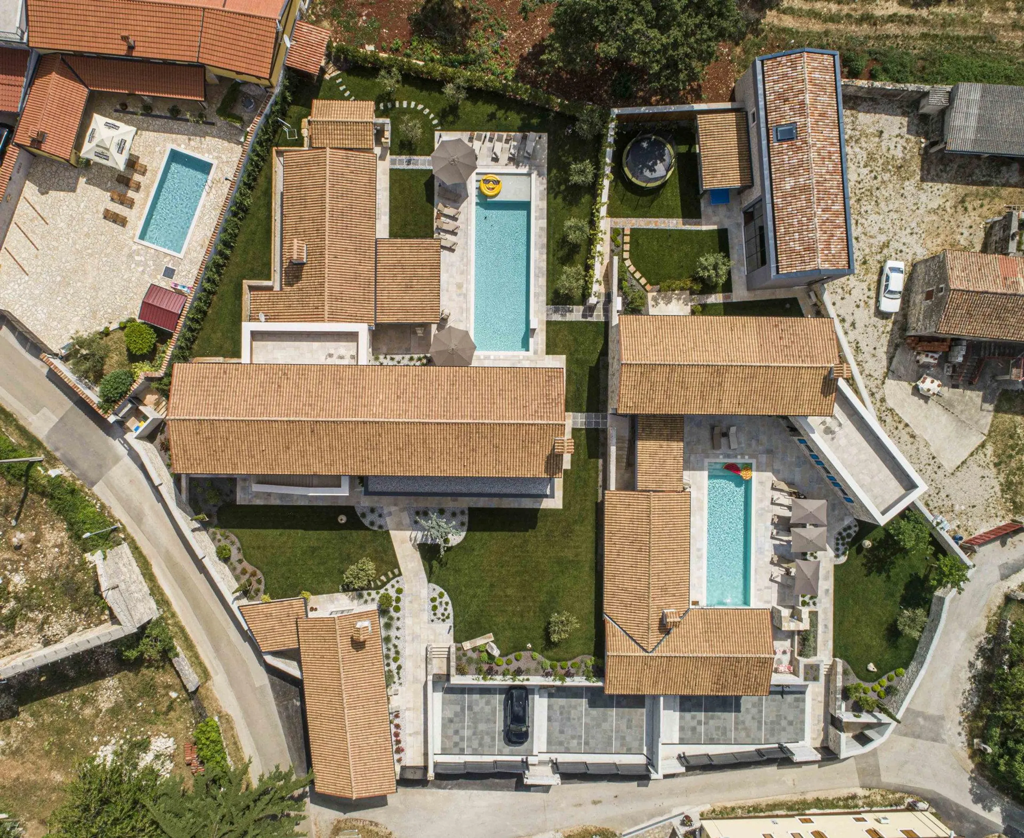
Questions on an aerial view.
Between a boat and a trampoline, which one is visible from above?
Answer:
trampoline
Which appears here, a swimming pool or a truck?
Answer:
swimming pool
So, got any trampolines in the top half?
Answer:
Yes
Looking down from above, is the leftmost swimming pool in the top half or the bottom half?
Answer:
top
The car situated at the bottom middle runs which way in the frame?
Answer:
vertically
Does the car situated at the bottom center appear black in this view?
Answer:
Yes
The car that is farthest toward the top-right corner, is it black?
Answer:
No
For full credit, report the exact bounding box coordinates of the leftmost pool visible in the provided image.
[133,144,218,259]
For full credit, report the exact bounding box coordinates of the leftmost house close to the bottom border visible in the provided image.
[296,604,401,799]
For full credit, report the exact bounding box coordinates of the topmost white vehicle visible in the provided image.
[875,259,905,315]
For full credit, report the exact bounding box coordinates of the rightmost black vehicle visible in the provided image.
[504,684,531,744]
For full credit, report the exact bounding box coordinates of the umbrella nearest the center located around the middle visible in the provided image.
[430,326,476,367]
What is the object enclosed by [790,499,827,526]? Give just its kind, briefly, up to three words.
umbrella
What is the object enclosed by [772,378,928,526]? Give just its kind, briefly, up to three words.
building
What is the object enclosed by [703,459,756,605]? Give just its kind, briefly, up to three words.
swimming pool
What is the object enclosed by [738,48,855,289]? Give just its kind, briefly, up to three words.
house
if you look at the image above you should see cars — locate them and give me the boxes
[875,259,905,315]
[504,684,531,744]
[0,118,18,170]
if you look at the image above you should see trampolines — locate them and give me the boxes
[623,130,678,188]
